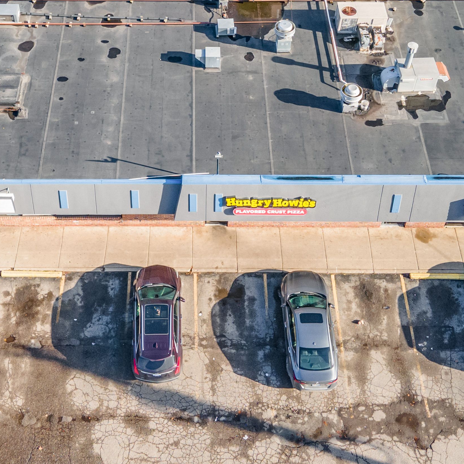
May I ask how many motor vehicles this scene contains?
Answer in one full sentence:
I count 2 motor vehicles.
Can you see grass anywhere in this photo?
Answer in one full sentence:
No, the picture contains no grass.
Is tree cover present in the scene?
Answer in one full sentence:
No, there is no tree cover in the image.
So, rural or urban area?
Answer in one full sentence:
This place is urban.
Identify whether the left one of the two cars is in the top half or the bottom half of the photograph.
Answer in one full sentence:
You can find the left one of the two cars in the bottom half.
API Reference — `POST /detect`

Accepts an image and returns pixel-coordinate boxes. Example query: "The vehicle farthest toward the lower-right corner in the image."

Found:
[280,271,339,392]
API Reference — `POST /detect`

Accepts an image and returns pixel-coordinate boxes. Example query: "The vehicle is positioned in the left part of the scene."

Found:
[128,264,186,384]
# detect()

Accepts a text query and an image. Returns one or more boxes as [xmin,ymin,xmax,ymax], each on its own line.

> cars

[280,271,339,392]
[128,264,186,384]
